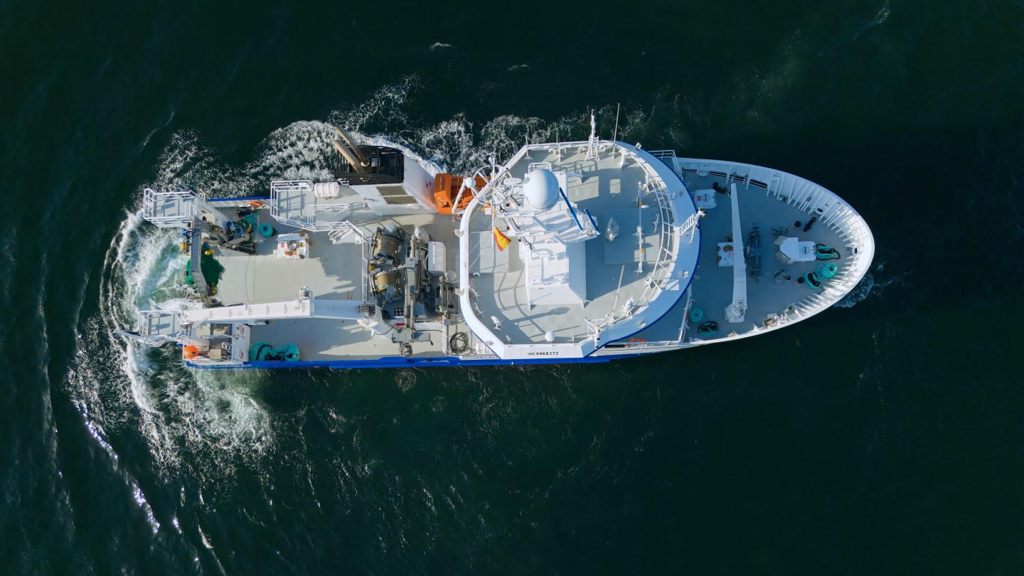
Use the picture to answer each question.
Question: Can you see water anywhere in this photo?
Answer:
Yes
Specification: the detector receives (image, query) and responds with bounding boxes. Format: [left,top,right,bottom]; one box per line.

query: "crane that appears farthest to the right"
[724,183,752,324]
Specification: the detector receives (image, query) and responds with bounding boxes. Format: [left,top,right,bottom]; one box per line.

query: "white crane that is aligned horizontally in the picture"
[180,286,398,340]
